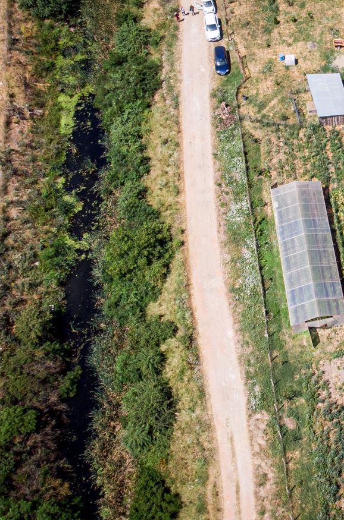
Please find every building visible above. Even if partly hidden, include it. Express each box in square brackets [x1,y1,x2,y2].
[306,73,344,125]
[269,180,344,345]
